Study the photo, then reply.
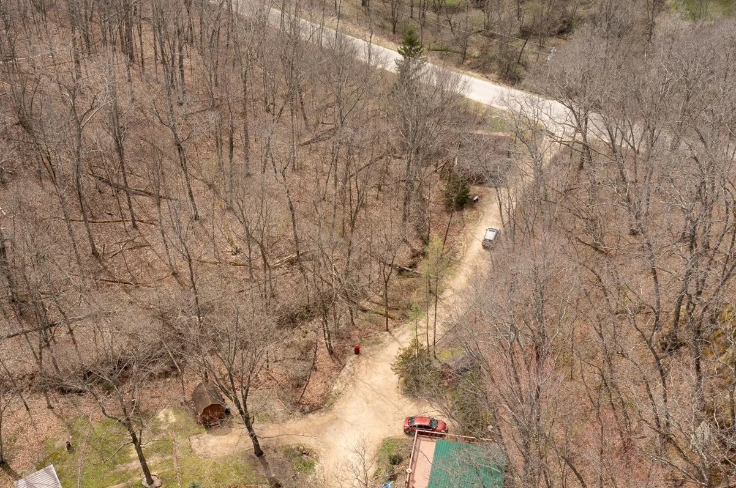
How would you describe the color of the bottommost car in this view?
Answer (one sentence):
From above, the bottommost car appears red.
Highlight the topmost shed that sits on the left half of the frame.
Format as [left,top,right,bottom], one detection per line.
[199,373,234,429]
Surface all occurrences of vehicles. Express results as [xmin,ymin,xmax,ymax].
[480,228,500,251]
[403,413,449,434]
